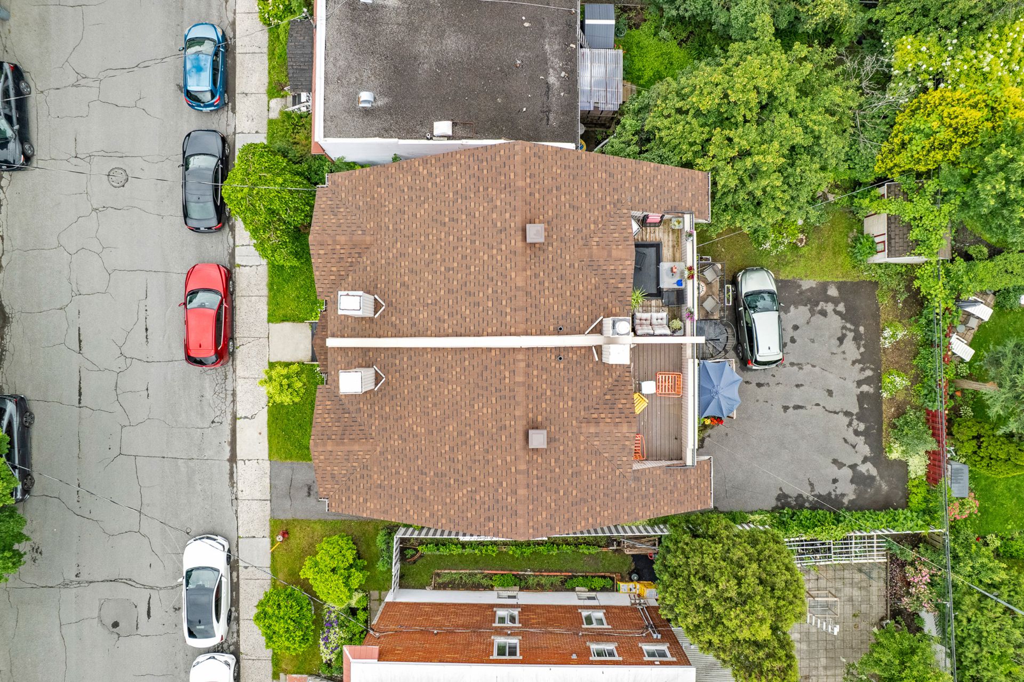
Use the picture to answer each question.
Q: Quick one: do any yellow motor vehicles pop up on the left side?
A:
No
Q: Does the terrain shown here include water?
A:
No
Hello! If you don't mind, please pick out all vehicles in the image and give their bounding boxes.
[179,537,236,651]
[178,262,237,369]
[0,61,38,168]
[0,395,38,500]
[192,654,241,682]
[728,265,784,370]
[179,127,235,233]
[178,20,234,112]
